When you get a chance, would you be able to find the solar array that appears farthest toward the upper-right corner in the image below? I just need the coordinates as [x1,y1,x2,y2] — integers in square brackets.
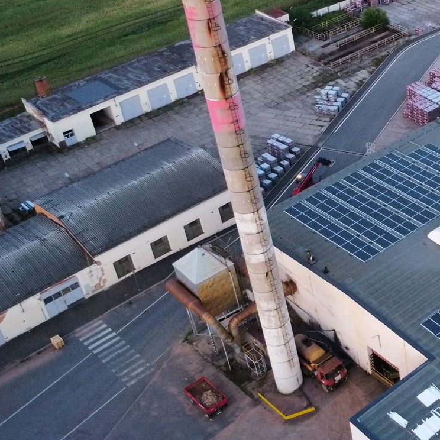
[282,143,440,263]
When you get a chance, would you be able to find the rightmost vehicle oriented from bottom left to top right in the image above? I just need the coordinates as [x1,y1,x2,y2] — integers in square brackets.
[292,160,337,198]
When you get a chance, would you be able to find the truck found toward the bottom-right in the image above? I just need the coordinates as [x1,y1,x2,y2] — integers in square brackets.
[291,335,350,395]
